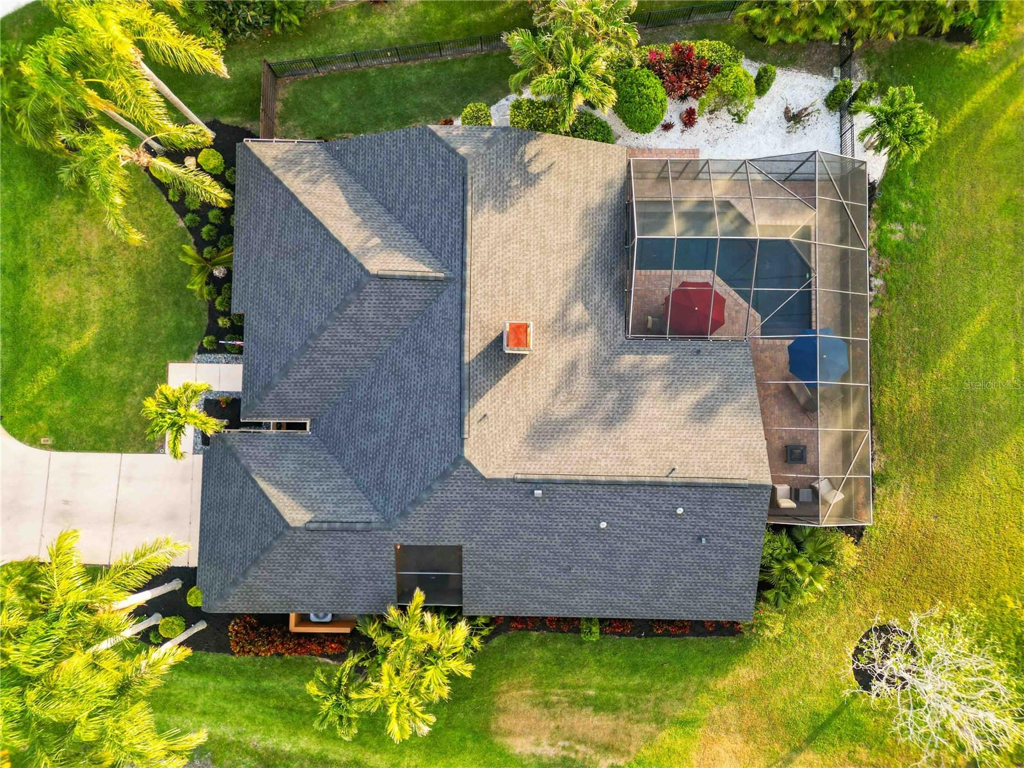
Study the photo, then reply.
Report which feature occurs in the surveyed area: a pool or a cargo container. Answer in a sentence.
The one in the frame is a pool.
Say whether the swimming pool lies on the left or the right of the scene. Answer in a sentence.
The swimming pool appears in the right half of the scene.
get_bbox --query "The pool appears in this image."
[636,201,811,334]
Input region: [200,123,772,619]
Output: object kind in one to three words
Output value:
house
